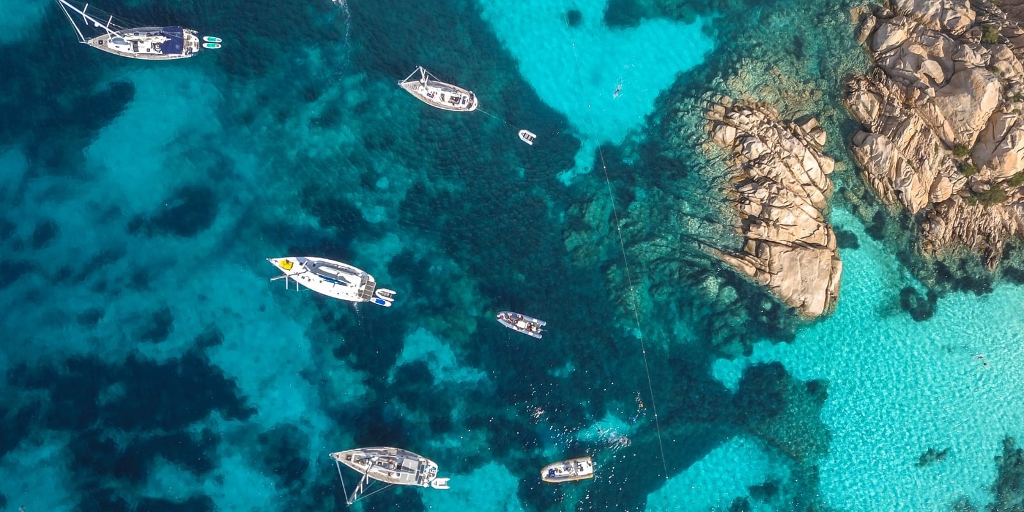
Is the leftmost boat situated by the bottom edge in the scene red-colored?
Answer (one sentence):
No, the color of the leftmost boat situated by the bottom edge is white.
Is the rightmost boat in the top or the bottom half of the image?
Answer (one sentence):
You can find the rightmost boat in the bottom half.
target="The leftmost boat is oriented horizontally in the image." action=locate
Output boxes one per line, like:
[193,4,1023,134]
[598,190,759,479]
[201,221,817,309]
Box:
[54,0,204,60]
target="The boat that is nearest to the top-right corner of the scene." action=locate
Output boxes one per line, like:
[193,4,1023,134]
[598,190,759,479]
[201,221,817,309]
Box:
[518,129,536,145]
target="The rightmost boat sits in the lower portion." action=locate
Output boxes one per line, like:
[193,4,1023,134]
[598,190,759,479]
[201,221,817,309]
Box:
[540,456,596,483]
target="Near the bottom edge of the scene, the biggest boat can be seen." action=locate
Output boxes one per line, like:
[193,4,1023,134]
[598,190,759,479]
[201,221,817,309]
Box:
[329,446,439,509]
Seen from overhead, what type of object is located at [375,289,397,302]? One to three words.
boat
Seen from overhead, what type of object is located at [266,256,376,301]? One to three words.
boat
